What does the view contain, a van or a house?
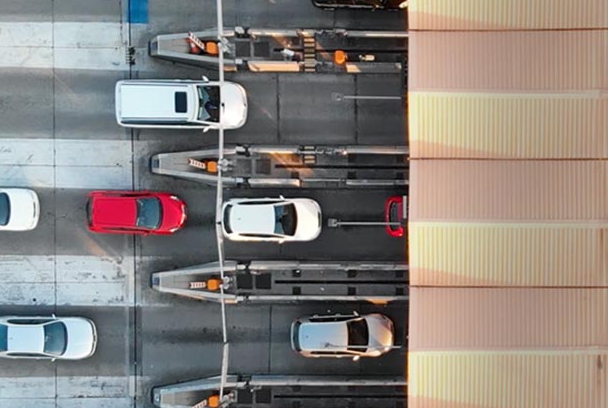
van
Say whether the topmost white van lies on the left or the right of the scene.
left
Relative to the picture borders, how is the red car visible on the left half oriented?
from left to right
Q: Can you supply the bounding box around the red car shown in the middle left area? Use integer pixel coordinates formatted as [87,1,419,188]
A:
[85,188,187,238]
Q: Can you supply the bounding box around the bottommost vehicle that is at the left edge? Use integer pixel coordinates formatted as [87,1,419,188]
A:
[0,313,98,364]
